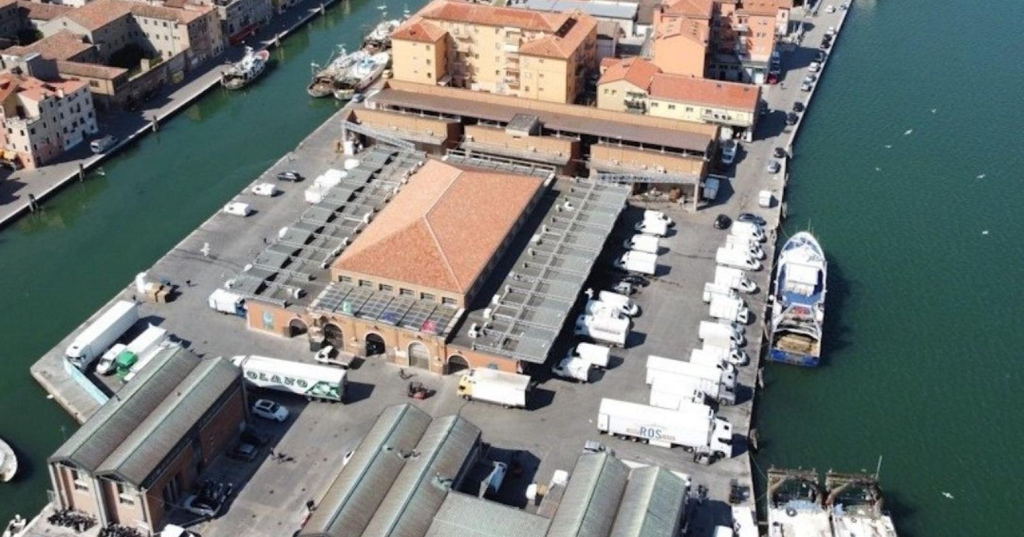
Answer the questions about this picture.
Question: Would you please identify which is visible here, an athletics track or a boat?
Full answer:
The one in the frame is a boat.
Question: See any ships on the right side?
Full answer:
Yes, I can see a ship on the right side.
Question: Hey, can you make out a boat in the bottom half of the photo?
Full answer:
Yes, you'll find a boat in the bottom half of the photo.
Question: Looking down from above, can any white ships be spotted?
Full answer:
Yes, a white ship is visible in the scene.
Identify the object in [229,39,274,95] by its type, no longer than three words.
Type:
boat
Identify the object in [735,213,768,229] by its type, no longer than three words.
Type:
car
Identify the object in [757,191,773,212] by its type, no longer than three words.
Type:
vehicle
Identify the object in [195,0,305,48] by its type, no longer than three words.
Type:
building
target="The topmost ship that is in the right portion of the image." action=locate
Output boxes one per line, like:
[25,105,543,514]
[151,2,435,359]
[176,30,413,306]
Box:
[769,230,823,372]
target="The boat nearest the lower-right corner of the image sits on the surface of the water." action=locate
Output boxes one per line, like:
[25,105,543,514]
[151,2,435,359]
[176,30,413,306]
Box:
[821,444,885,537]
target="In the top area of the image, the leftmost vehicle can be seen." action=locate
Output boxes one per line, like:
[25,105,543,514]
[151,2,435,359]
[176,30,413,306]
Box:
[90,130,121,153]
